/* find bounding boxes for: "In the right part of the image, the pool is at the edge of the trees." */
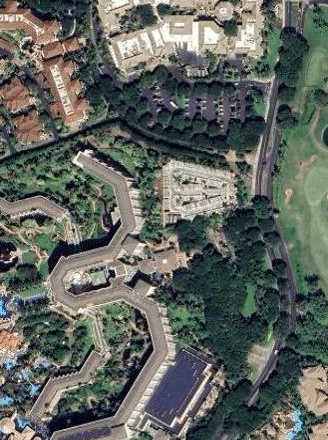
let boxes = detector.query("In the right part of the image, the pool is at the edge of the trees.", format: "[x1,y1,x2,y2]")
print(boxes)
[285,409,303,440]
